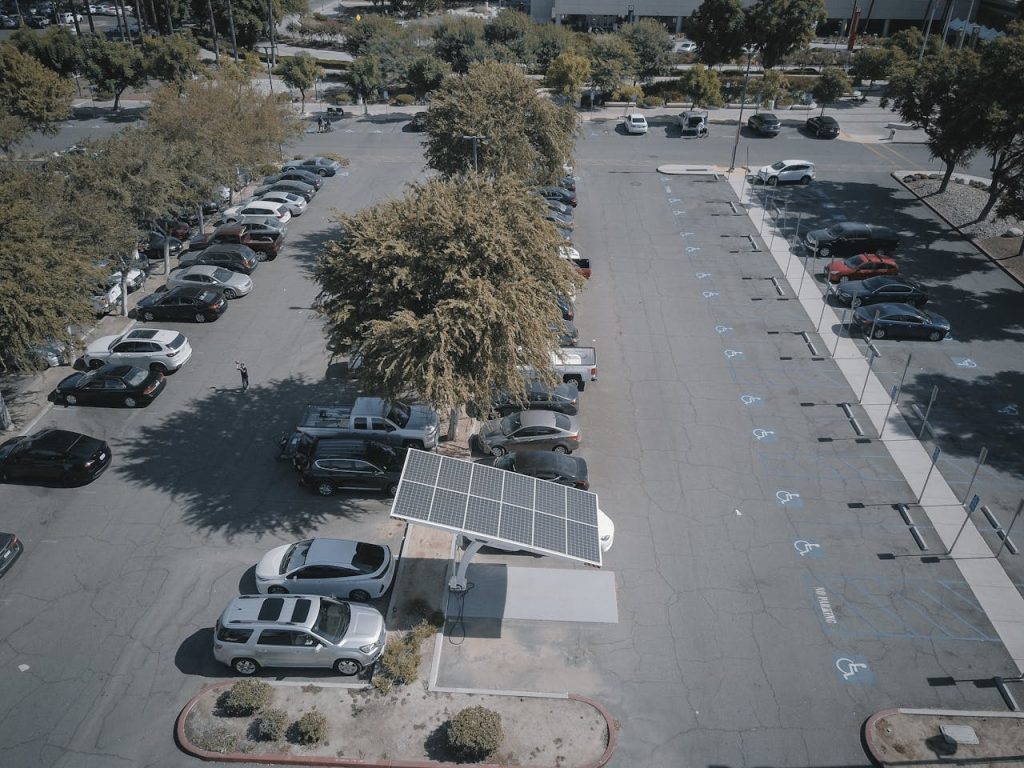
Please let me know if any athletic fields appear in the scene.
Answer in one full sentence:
No, there's no athletic field here.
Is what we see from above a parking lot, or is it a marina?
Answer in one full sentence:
The area seen from above is a parking lot.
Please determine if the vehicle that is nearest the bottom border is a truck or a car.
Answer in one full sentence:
It turns out the vehicle that is nearest the bottom border is a car.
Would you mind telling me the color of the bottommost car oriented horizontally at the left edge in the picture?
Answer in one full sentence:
The color of the bottommost car oriented horizontally at the left edge is black.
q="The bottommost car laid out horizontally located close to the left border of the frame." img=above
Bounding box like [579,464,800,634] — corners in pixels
[0,432,110,485]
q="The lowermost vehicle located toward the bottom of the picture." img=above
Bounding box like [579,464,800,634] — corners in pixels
[212,591,387,677]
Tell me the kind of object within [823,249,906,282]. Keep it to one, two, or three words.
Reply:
car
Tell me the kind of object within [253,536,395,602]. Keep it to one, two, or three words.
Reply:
car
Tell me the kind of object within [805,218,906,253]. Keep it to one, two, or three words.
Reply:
truck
